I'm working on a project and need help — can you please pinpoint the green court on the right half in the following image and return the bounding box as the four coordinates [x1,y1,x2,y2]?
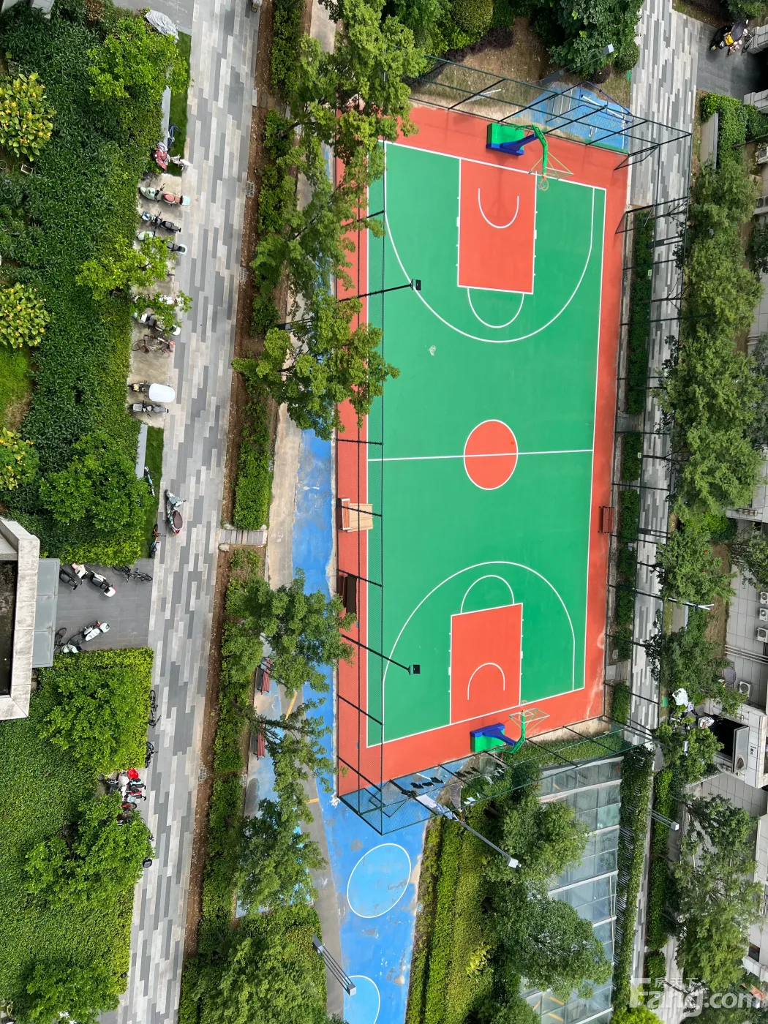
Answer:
[337,87,628,797]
